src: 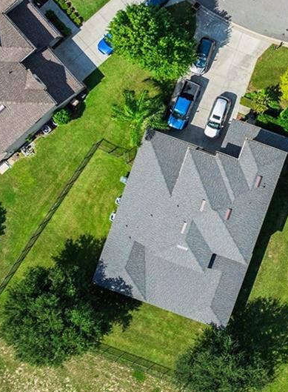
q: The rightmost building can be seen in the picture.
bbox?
[93,119,288,326]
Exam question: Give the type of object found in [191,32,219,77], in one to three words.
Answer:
car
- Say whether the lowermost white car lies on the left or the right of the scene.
right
